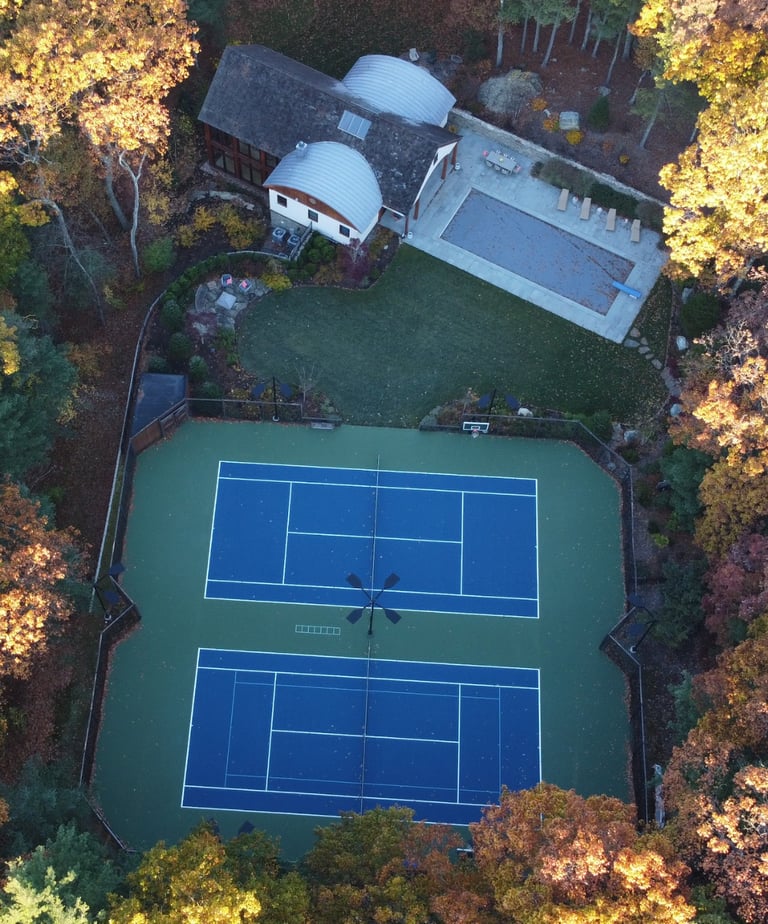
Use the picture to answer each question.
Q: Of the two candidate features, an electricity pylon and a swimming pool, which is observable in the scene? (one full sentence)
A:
I can see a swimming pool in this picture.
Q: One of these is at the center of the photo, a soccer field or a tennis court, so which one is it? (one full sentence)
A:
Looking at the center of the photo, you will find a tennis court.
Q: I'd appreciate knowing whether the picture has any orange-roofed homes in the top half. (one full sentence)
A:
No, no orange-roofed home is visible in the top half.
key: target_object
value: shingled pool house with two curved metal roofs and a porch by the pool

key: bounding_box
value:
[199,45,462,248]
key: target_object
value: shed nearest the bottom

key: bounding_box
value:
[130,373,190,457]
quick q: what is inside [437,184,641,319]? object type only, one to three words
swimming pool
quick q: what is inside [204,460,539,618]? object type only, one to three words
tennis court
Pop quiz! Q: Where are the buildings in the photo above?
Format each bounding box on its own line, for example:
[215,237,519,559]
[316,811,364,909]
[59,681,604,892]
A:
[130,373,190,457]
[199,45,462,248]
